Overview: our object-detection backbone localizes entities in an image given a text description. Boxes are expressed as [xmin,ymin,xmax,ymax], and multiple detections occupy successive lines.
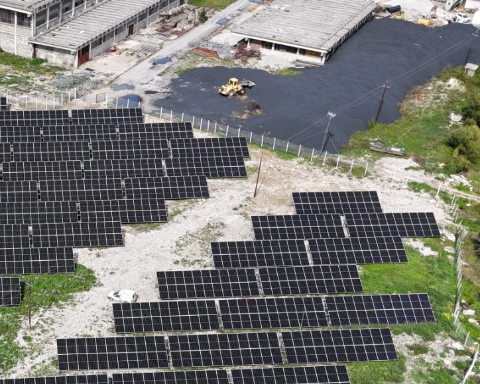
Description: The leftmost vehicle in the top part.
[218,79,256,99]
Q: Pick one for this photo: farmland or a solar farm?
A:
solar farm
